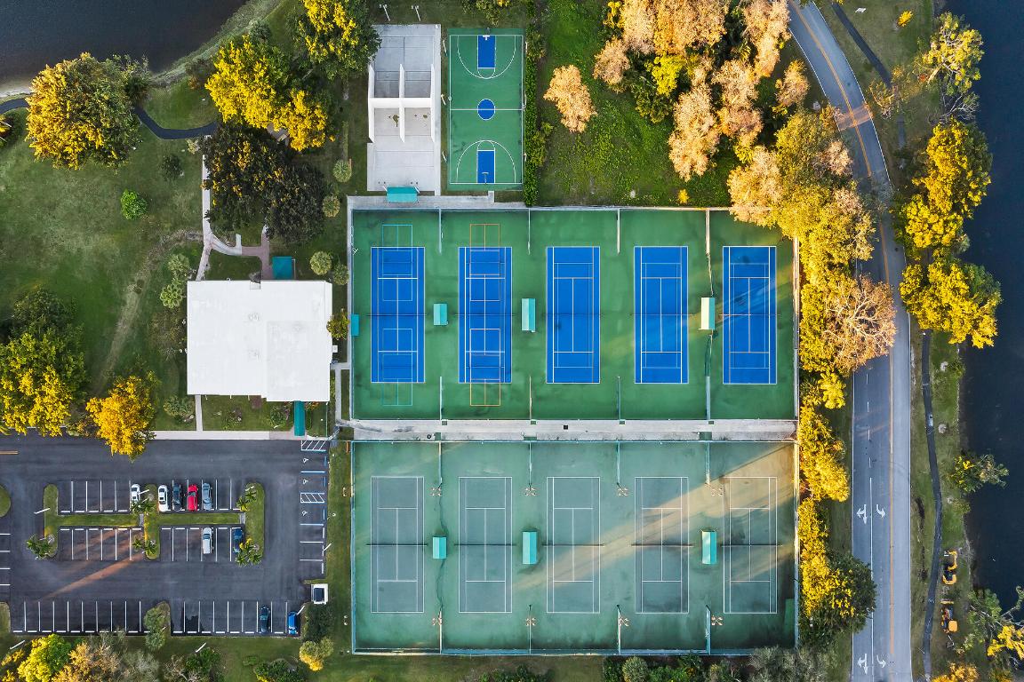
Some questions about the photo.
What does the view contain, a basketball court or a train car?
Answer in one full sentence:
Looking from above, you can make out a basketball court.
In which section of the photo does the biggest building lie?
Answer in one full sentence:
The biggest building is located in the left region of the scene.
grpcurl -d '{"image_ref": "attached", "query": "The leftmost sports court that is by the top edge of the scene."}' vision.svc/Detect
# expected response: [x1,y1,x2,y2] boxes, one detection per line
[372,24,441,143]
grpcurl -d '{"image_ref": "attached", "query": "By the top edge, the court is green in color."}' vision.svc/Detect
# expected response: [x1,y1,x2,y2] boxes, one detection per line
[448,28,524,191]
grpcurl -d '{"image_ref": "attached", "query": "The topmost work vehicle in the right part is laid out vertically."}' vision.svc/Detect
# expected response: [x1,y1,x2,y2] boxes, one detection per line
[943,551,959,587]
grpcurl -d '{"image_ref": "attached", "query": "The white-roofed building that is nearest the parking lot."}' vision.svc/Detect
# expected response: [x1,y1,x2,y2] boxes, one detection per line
[187,281,337,402]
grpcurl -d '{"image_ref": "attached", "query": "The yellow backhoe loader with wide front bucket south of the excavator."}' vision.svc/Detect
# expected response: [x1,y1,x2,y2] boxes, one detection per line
[941,602,960,647]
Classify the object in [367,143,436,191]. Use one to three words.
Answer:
sports court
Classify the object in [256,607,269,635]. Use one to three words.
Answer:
vehicle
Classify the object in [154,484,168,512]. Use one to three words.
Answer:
car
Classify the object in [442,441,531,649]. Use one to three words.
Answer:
tennis court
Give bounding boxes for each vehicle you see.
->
[198,483,211,511]
[154,484,168,512]
[943,551,959,587]
[198,528,212,557]
[256,607,269,635]
[168,483,182,511]
[183,484,197,512]
[126,483,140,510]
[229,530,242,554]
[285,611,298,639]
[941,602,960,647]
